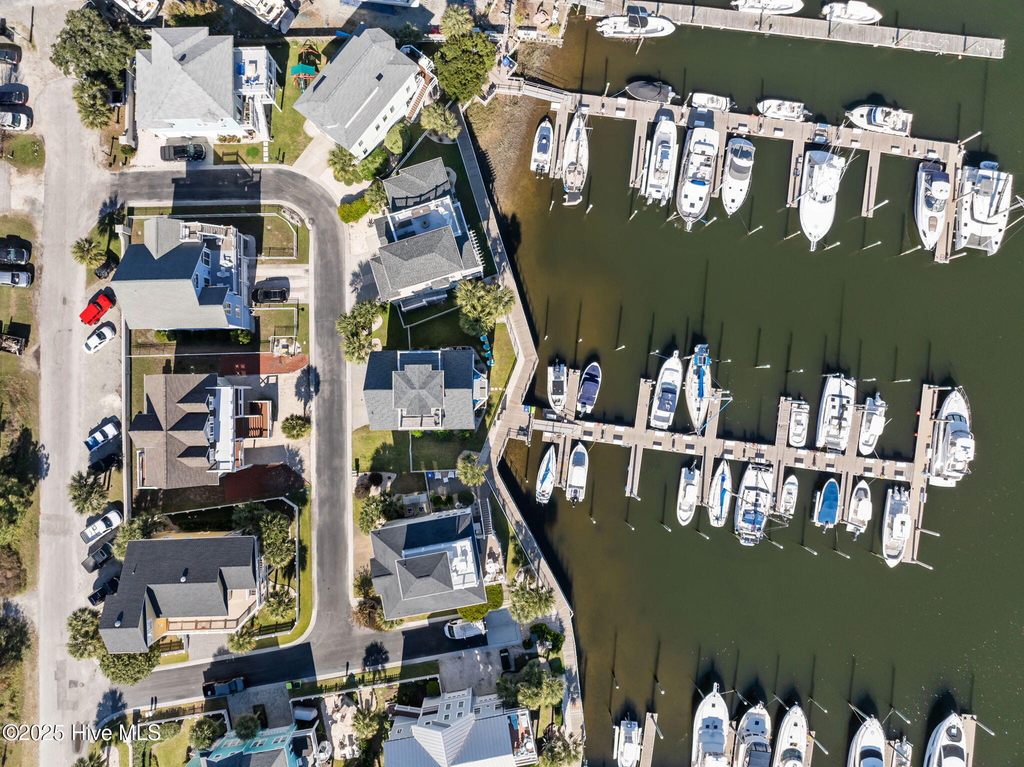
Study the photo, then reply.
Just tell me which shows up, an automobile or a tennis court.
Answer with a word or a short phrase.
automobile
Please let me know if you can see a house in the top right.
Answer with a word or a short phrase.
No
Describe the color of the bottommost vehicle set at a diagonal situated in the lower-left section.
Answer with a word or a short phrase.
black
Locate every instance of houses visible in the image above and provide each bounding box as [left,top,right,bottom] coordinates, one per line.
[369,499,507,621]
[197,709,336,767]
[383,687,538,767]
[128,374,276,490]
[100,533,279,654]
[292,22,441,163]
[363,350,489,430]
[135,26,280,144]
[369,157,486,312]
[104,218,250,330]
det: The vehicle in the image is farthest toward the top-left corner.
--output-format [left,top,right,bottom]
[0,47,23,68]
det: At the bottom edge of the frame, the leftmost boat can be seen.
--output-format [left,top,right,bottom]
[612,706,643,767]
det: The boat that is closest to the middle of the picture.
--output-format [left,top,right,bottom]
[548,355,569,411]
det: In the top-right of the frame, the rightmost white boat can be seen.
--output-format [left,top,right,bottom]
[951,158,1024,255]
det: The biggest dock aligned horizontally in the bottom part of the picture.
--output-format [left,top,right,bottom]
[542,370,939,564]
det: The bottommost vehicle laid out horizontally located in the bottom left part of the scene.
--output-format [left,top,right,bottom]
[202,673,247,698]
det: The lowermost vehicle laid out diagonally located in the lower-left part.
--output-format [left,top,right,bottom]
[84,576,116,608]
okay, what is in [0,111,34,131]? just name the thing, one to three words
car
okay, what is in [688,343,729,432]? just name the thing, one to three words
boat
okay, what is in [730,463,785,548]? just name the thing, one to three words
boat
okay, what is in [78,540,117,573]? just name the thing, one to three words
vehicle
